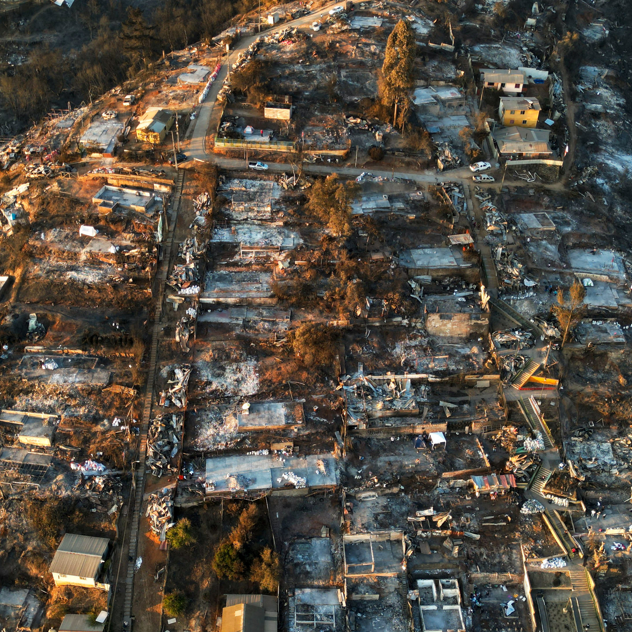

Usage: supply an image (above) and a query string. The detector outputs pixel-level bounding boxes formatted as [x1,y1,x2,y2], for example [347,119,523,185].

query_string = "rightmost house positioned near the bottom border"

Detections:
[221,594,277,632]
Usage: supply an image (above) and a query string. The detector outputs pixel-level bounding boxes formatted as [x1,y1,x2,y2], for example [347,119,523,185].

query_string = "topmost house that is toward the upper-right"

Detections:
[479,67,528,100]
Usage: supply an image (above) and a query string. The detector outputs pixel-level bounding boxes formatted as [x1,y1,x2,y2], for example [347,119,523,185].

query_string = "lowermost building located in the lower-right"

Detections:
[470,475,516,499]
